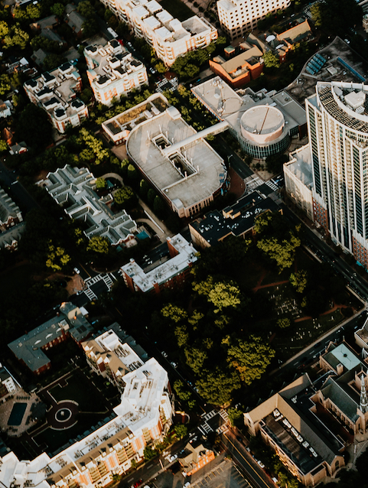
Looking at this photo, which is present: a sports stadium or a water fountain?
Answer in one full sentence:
I can see a water fountain in this picture.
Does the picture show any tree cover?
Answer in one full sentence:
Yes, tree cover shows up in the scene.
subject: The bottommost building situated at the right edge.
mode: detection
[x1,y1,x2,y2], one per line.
[239,341,368,482]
